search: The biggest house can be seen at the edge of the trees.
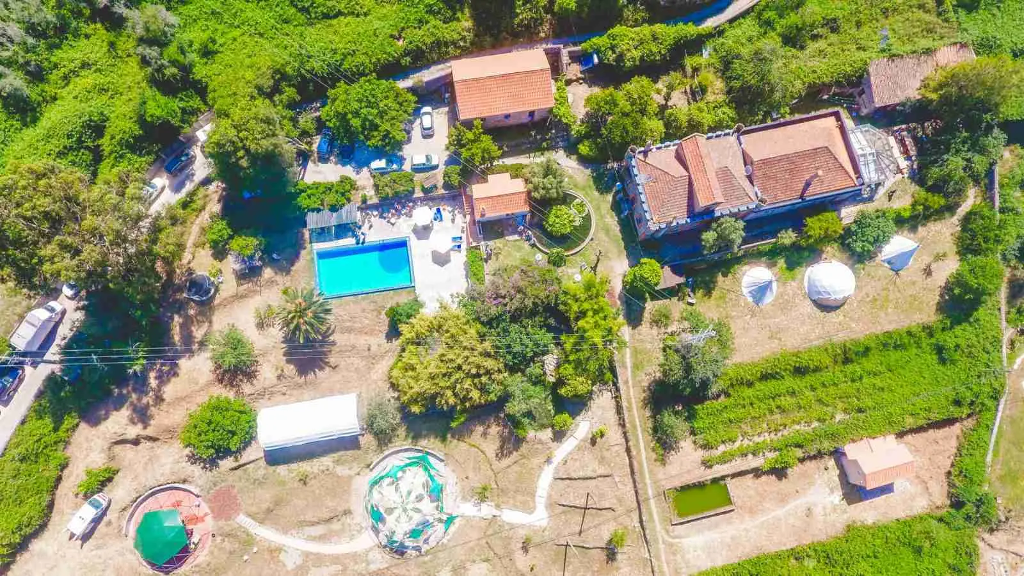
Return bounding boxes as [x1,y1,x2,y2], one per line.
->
[620,109,864,241]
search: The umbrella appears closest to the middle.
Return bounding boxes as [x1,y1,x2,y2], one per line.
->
[430,231,451,255]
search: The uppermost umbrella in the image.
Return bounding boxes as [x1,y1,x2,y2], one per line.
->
[413,207,433,227]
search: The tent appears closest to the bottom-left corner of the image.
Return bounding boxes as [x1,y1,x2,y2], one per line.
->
[257,393,363,449]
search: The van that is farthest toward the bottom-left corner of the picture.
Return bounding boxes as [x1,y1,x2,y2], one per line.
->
[65,492,113,538]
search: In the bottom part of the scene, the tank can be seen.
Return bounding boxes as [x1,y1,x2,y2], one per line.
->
[665,476,736,524]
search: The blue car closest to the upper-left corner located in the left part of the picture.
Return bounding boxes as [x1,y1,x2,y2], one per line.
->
[163,147,197,176]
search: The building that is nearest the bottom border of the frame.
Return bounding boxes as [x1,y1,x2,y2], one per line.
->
[842,435,916,505]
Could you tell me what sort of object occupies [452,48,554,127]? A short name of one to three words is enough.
house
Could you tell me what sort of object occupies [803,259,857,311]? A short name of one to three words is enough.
tent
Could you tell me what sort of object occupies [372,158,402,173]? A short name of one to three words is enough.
car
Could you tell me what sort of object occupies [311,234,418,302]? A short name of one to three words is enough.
swimming pool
